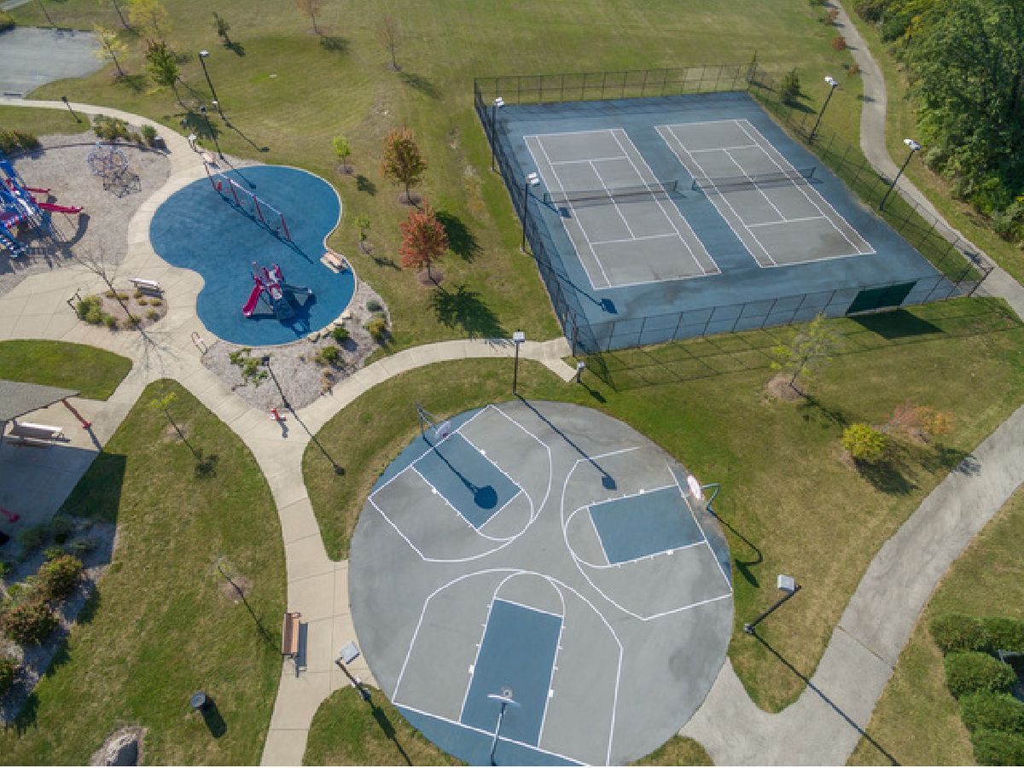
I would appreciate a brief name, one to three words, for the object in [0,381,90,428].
building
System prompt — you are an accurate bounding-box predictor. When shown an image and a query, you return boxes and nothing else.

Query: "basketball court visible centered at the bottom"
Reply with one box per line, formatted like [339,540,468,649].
[347,399,735,768]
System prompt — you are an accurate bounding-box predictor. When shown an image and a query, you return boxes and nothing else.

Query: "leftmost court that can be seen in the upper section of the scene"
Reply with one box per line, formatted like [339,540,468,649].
[477,98,780,355]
